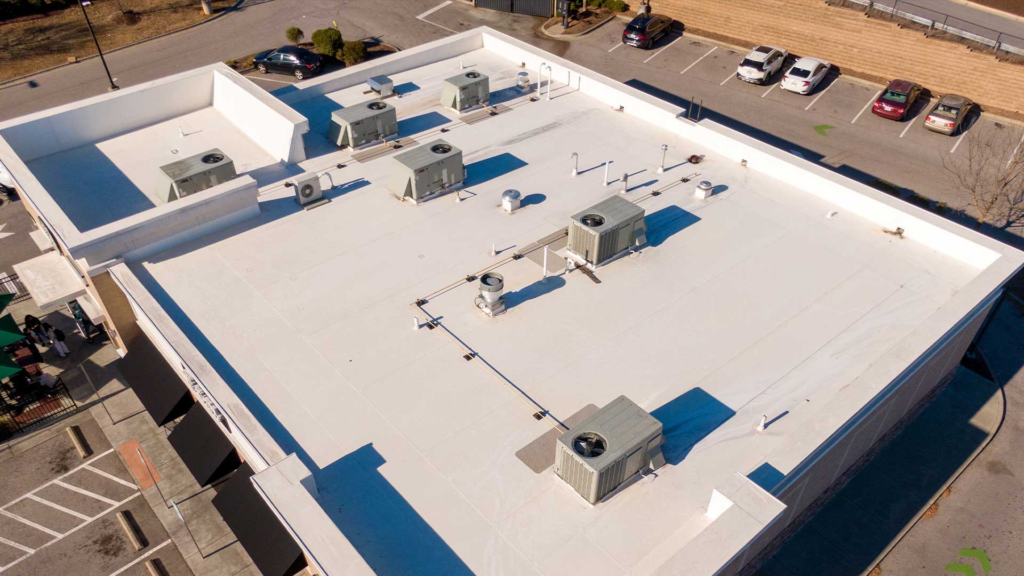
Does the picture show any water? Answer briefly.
No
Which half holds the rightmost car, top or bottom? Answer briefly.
top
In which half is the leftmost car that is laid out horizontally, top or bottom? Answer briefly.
top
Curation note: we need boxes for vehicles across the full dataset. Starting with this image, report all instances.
[871,83,926,126]
[920,96,977,140]
[249,44,326,77]
[778,60,832,99]
[624,12,677,51]
[737,44,791,87]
